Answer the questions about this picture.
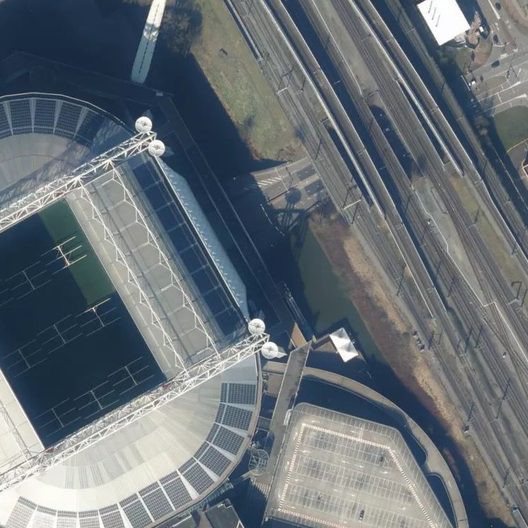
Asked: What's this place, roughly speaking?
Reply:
sports ground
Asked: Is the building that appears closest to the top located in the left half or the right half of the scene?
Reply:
right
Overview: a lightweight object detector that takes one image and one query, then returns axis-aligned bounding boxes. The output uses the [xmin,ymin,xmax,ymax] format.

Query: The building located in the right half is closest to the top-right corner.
[416,0,471,45]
